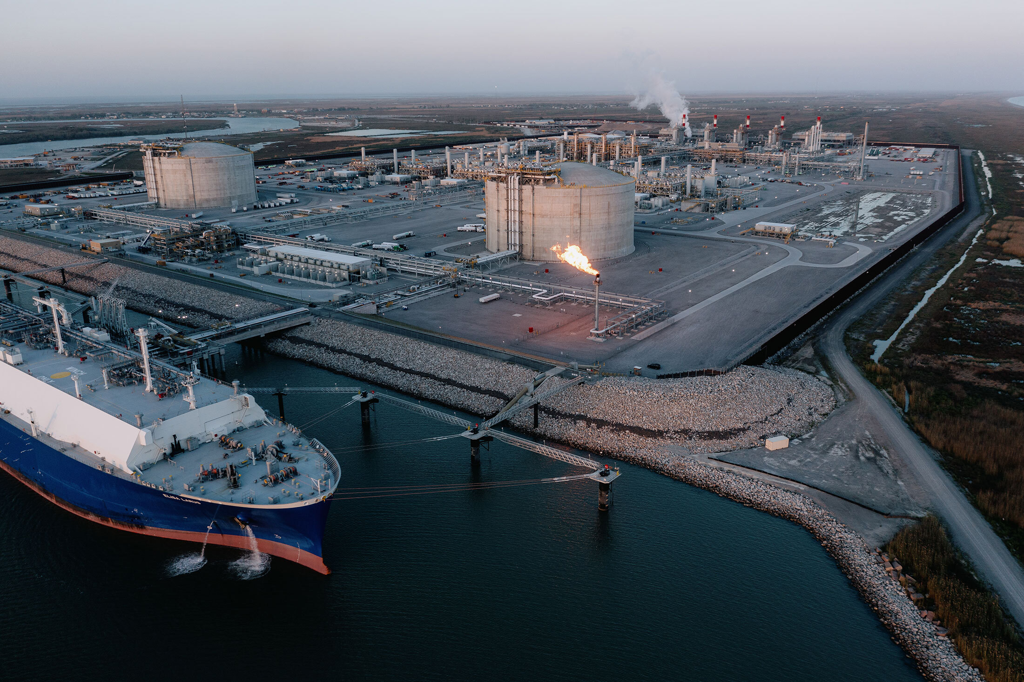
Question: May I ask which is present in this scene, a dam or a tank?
tank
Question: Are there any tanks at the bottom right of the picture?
No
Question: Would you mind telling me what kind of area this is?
port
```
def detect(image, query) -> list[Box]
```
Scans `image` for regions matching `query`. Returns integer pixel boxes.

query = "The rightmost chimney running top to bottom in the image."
[849,119,877,180]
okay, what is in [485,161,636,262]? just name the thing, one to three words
storage tank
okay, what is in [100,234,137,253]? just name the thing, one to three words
building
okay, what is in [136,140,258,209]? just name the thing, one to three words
storage tank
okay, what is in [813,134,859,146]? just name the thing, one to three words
cooling tower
